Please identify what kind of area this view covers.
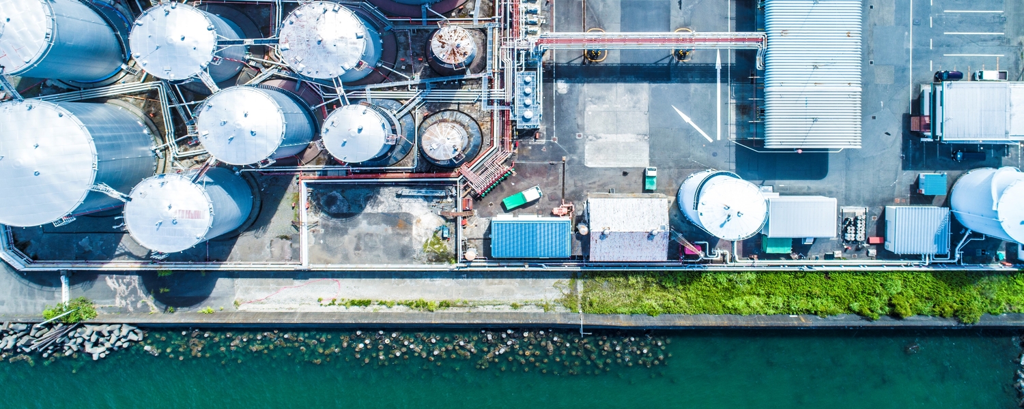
industrial area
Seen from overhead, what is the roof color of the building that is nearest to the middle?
blue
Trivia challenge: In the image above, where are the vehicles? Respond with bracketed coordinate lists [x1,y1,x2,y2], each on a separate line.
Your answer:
[501,184,542,213]
[643,167,656,191]
[972,69,1007,81]
[932,69,964,81]
[950,149,988,162]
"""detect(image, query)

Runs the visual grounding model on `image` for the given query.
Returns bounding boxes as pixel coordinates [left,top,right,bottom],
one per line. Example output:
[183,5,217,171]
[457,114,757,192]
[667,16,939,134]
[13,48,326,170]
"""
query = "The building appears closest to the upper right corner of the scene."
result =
[901,81,1024,144]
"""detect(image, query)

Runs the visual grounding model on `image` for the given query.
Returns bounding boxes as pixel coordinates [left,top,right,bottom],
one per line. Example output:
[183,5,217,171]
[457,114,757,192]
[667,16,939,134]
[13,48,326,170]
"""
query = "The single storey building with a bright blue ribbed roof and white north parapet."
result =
[488,213,571,258]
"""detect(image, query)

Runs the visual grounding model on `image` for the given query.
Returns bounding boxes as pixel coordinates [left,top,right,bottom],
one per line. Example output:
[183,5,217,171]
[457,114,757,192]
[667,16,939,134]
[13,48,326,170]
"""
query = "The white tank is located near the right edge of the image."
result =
[948,164,1024,246]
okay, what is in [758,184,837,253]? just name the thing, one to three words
shed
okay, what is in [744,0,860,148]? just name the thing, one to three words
warehouse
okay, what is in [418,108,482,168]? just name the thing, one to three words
storage tank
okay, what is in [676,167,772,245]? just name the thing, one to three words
storage tank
